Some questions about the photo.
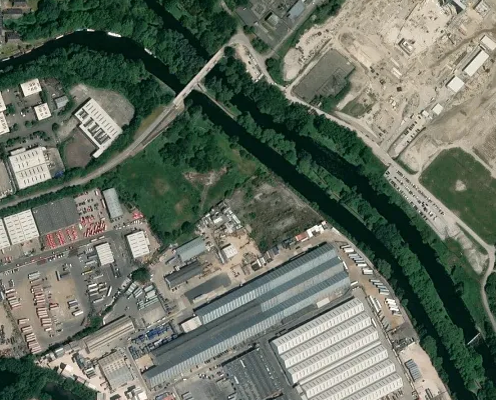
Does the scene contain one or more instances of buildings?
Yes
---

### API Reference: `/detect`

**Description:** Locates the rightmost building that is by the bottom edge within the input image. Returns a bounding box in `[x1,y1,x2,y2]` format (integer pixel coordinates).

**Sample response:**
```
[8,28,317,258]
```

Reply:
[272,297,405,400]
